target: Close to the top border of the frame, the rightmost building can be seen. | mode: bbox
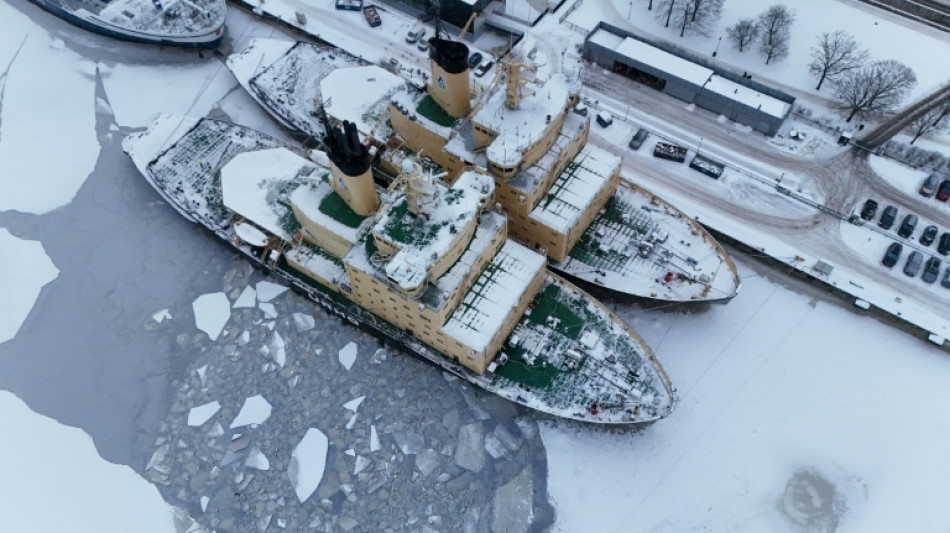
[582,20,794,137]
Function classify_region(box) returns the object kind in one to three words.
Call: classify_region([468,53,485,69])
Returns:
car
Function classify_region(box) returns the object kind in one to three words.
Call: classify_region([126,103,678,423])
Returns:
ship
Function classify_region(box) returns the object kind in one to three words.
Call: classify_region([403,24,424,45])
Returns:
vehicle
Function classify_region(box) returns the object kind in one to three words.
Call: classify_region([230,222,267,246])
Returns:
boat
